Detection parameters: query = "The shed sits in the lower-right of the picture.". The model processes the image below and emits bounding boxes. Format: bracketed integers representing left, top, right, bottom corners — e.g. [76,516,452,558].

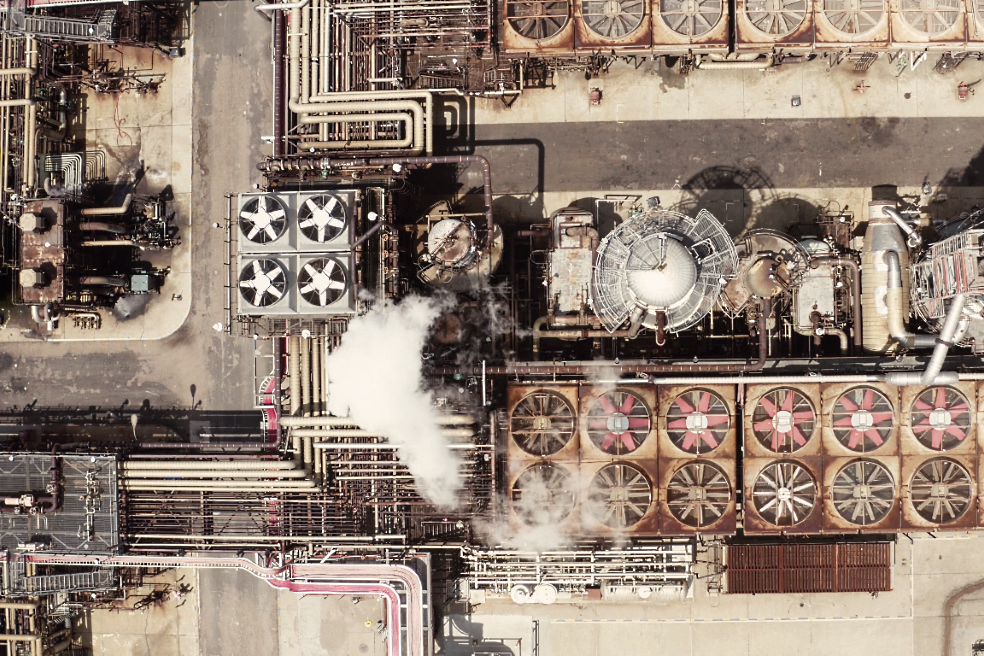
[719,534,895,594]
